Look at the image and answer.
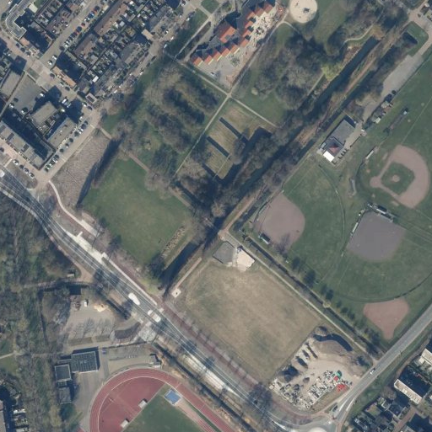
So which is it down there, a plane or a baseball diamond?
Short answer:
baseball diamond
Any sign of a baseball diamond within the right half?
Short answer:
Yes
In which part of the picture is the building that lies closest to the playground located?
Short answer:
top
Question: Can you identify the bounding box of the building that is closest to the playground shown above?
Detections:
[191,0,275,66]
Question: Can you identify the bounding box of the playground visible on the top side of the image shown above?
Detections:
[290,0,317,22]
